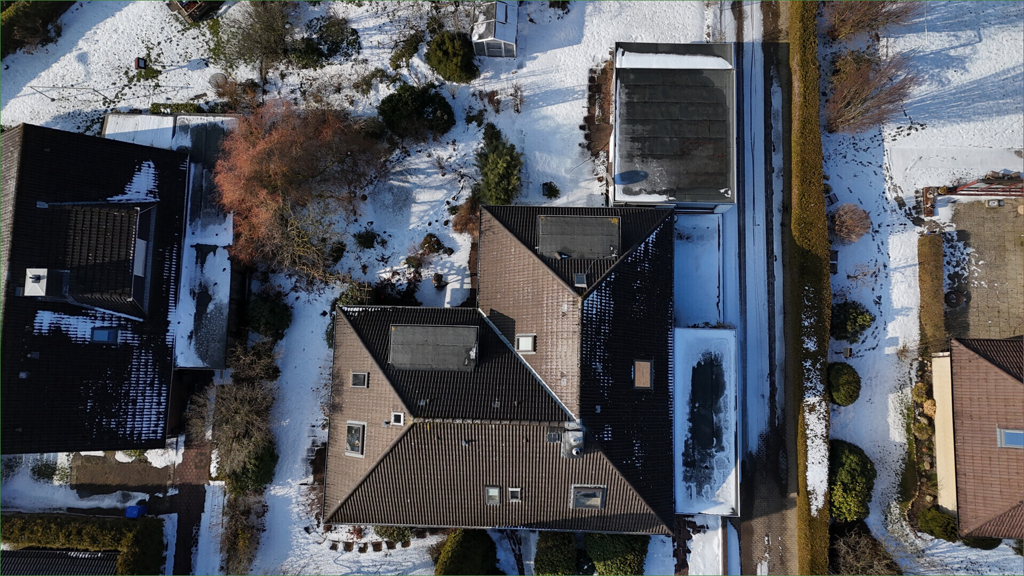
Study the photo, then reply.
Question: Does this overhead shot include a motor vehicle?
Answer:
No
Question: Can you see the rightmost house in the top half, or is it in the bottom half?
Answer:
bottom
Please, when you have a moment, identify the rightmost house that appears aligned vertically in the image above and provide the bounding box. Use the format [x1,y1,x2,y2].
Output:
[932,337,1024,539]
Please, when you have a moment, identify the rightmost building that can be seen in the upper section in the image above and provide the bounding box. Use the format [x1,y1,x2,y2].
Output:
[609,41,738,212]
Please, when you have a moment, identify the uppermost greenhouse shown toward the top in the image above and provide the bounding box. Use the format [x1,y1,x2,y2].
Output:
[473,0,519,57]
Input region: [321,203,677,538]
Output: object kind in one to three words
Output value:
house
